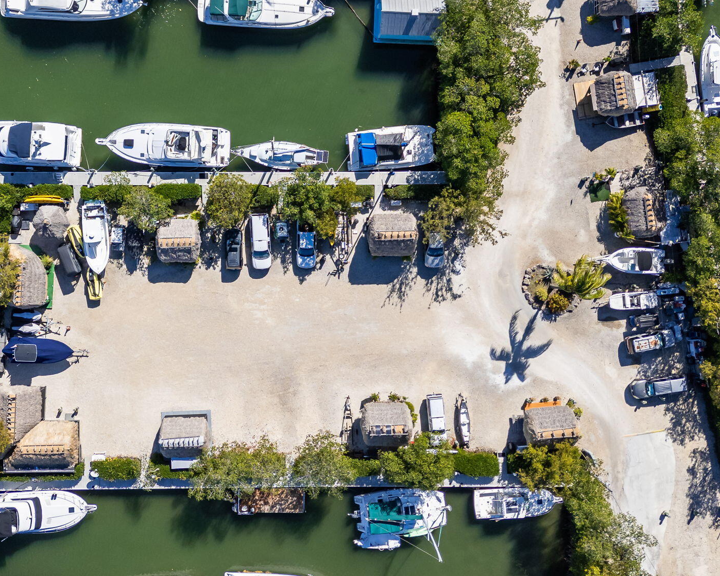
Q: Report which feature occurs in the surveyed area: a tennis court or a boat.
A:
boat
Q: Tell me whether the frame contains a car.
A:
Yes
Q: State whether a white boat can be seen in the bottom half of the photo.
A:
Yes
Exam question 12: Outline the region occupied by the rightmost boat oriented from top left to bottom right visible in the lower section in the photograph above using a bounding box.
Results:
[583,450,601,473]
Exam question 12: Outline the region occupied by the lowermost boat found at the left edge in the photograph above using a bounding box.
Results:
[0,487,99,541]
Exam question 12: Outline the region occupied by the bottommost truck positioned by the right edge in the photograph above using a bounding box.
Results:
[628,373,689,400]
